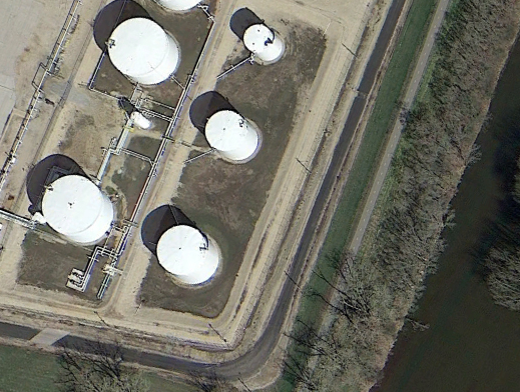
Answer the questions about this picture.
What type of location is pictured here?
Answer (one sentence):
The area seen from above is an industrial area.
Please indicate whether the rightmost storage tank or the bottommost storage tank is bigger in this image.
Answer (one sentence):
The rightmost storage tank is smaller than the bottommost storage tank.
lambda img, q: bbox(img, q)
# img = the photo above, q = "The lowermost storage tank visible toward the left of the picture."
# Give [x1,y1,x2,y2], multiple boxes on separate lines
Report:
[157,224,221,287]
